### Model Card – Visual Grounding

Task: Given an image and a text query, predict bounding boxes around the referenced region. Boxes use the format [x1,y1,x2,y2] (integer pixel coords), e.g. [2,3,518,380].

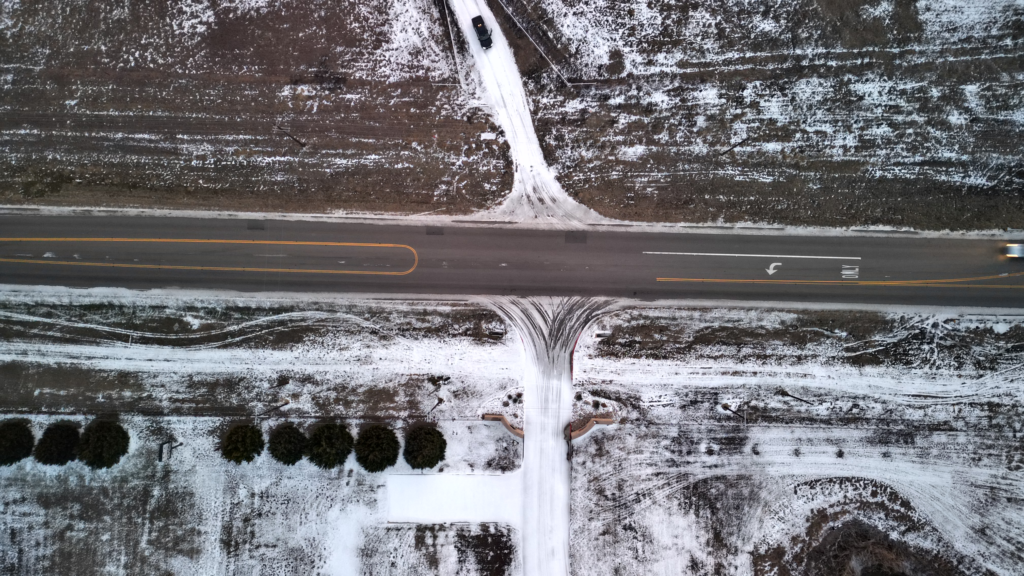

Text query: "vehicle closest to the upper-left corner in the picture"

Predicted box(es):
[471,15,492,51]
